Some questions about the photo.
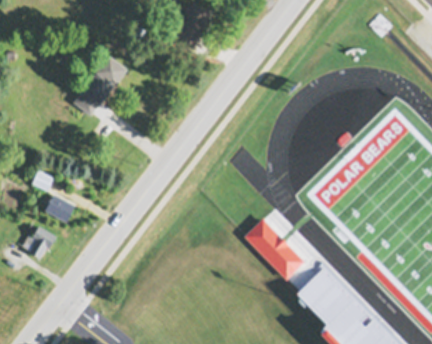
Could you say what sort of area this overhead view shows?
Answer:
sports ground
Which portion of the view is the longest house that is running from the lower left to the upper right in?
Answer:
top left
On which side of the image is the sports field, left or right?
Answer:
right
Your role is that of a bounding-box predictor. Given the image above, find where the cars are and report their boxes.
[104,126,112,136]
[4,260,14,269]
[112,214,122,226]
[10,250,21,258]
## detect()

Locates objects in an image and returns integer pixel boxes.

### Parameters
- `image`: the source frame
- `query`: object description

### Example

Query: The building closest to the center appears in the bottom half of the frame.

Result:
[244,220,304,280]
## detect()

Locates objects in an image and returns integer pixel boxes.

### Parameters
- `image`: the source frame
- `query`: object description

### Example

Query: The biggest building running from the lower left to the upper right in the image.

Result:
[72,58,128,117]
